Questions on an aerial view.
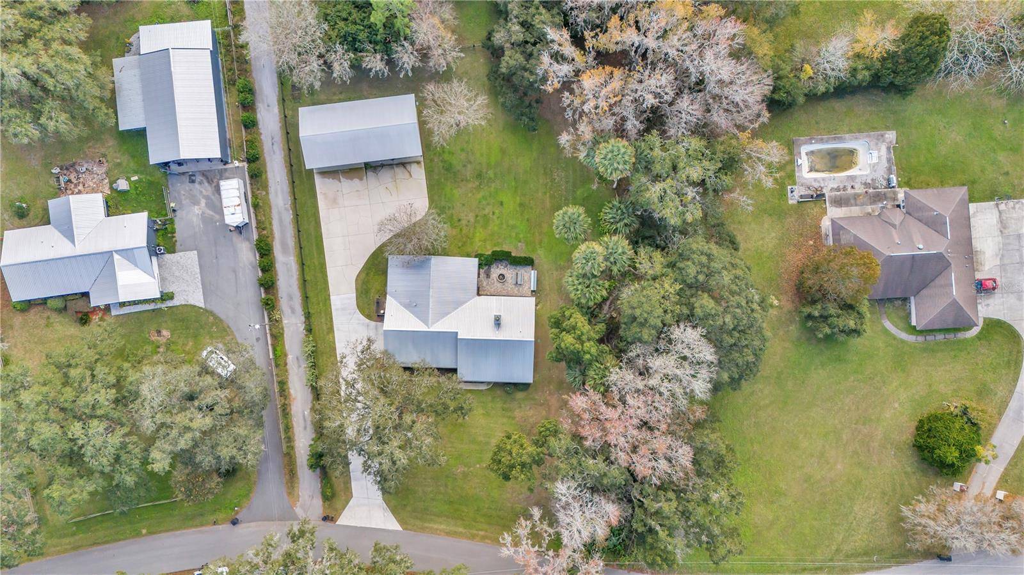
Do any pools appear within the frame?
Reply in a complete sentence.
Yes, the frame does contain a pool.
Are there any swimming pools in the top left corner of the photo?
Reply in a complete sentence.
No, I can find no swimming pool in the top left corner of the photo.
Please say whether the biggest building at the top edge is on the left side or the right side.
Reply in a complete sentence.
The biggest building at the top edge is on the left side of the image.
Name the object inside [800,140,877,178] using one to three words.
swimming pool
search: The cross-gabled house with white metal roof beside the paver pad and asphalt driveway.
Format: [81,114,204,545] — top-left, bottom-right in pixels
[0,193,167,306]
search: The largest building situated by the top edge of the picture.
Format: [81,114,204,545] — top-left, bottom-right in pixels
[113,20,231,165]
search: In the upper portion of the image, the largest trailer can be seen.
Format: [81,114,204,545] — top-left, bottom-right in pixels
[219,178,250,238]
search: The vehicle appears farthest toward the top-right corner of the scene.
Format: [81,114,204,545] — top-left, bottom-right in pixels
[974,277,998,294]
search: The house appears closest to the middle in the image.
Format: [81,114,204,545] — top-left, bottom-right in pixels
[383,256,535,383]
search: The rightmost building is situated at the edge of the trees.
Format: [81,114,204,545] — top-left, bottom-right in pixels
[826,185,978,331]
